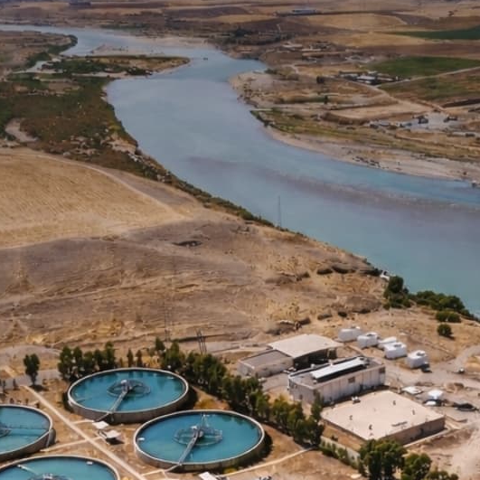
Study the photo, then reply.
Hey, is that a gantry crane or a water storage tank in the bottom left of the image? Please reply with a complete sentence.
Looking in the bottom left of the image, you will find a water storage tank.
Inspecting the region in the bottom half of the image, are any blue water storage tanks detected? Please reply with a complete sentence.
Yes, in the bottom half of the image there is a blue water storage tank.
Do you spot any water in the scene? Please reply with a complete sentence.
Yes, water can be seen from above here.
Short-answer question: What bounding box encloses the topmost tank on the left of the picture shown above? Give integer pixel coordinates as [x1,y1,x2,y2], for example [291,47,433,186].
[68,369,189,430]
